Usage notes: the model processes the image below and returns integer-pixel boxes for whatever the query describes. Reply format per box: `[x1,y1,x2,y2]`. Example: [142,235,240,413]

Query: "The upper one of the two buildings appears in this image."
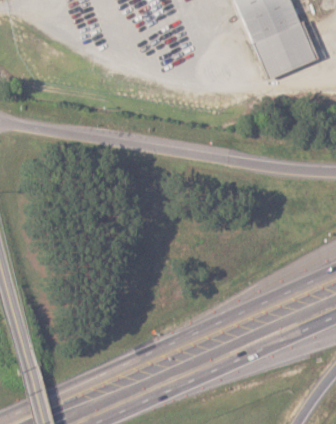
[232,0,302,42]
